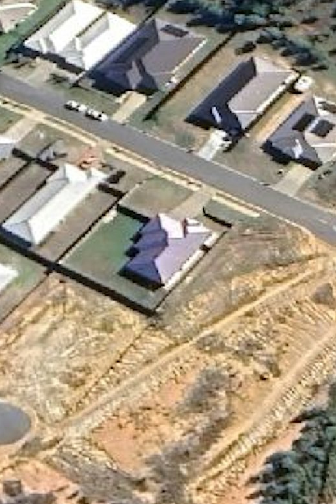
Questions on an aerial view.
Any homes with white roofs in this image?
Yes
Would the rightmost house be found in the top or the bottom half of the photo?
top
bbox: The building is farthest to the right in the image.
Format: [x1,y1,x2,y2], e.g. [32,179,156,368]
[264,94,336,173]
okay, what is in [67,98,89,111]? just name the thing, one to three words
vehicle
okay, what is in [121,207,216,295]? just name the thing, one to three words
house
